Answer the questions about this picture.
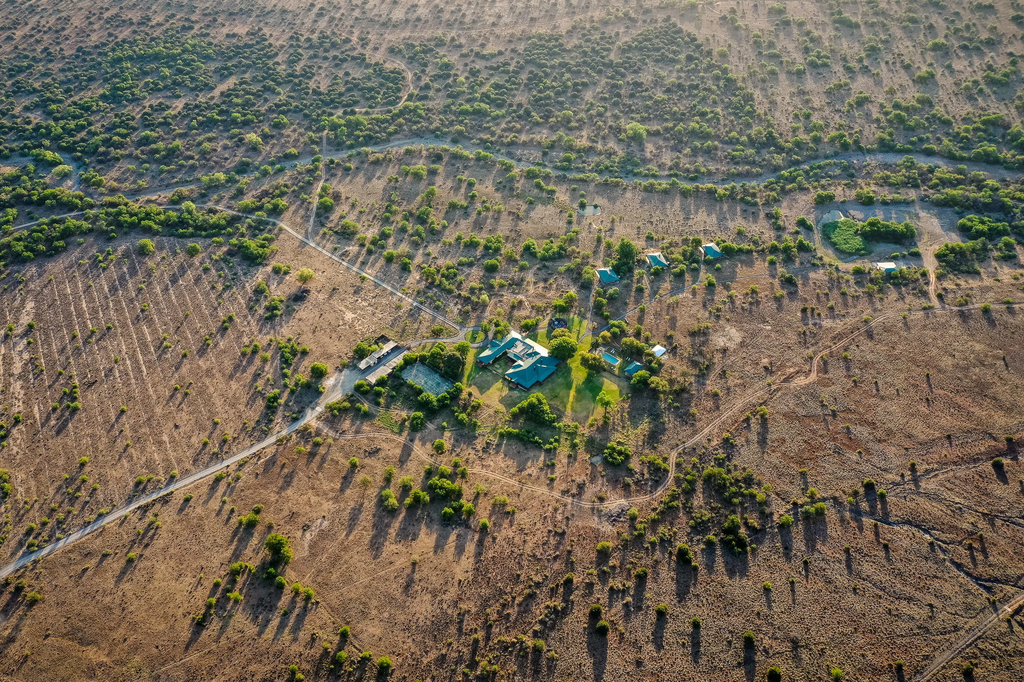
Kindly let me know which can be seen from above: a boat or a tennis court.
tennis court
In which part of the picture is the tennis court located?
center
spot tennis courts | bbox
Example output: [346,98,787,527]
[413,362,453,394]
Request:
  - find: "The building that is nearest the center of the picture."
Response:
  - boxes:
[476,330,561,392]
